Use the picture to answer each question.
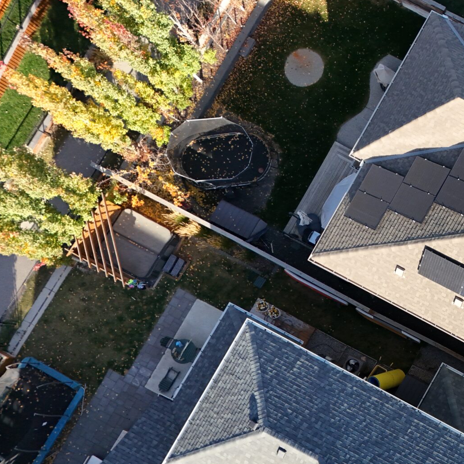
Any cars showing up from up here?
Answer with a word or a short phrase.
No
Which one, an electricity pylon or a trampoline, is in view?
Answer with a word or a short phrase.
trampoline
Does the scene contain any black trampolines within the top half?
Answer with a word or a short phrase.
Yes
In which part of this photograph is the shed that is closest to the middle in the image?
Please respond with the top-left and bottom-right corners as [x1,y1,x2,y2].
[212,197,268,243]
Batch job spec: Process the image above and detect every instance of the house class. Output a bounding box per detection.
[111,301,464,464]
[306,8,464,345]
